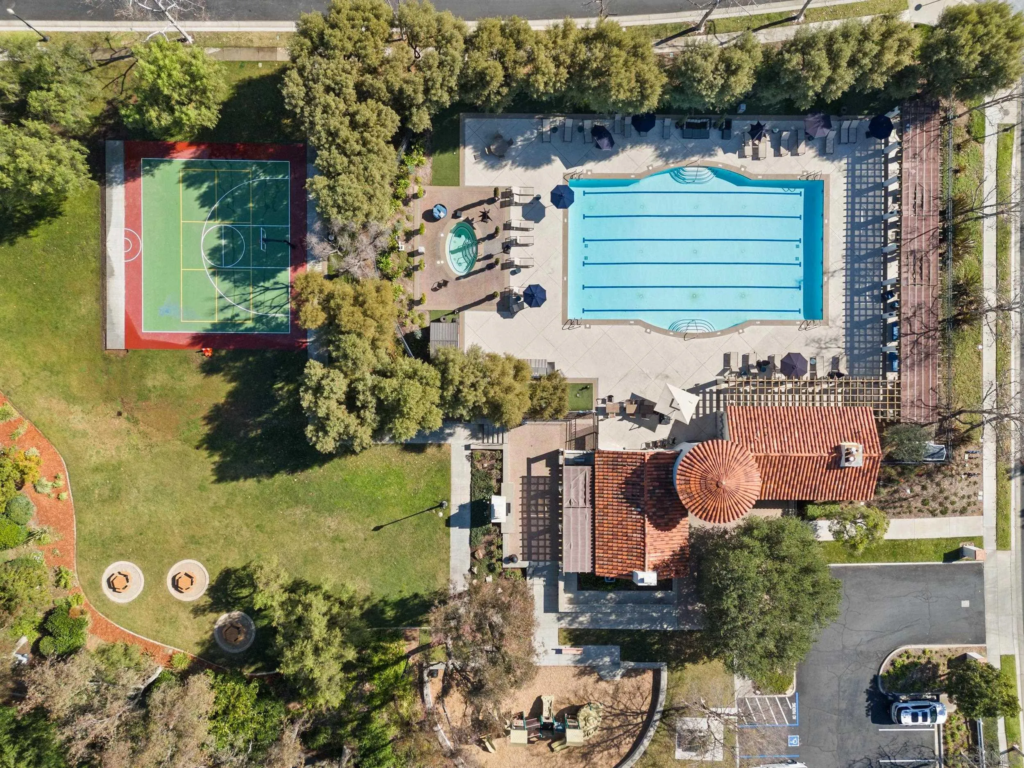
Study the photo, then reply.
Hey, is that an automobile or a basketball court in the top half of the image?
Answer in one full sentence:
What appears in the top half of the image is a basketball court.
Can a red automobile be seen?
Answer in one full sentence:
No, no red automobile is visible in the scene.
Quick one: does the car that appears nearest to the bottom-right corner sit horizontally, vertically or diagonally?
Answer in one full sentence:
The car that appears nearest to the bottom-right corner is oriented horizontally.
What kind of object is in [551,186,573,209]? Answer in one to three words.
umbrella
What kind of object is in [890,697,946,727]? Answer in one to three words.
car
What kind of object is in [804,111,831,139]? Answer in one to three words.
umbrella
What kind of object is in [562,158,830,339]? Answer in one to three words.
swimming pool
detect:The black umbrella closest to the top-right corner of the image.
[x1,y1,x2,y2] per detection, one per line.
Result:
[867,116,892,140]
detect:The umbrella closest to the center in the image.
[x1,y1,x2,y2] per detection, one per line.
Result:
[523,285,546,307]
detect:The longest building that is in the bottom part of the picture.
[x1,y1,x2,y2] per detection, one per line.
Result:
[595,406,882,587]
